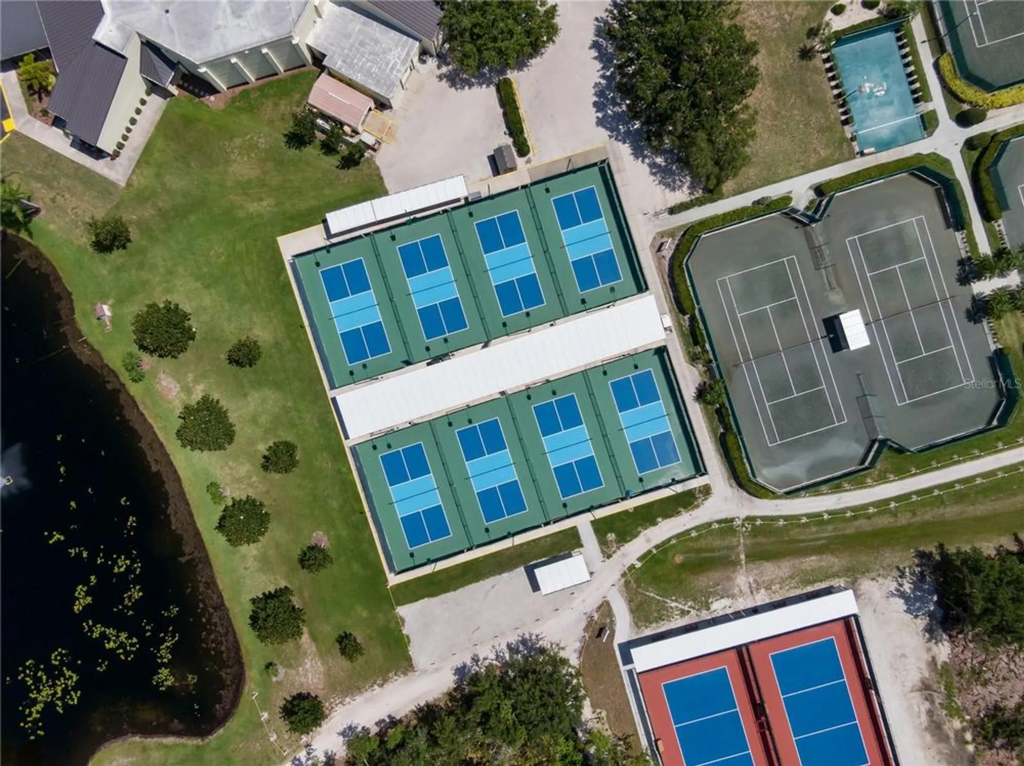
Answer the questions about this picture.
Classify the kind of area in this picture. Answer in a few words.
sports ground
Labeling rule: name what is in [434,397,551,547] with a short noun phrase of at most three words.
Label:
sports court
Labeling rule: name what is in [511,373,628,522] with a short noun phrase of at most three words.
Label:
sports court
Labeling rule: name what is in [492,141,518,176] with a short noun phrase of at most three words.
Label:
shed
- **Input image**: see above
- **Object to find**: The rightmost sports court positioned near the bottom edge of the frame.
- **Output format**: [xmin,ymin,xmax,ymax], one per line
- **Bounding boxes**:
[744,616,897,766]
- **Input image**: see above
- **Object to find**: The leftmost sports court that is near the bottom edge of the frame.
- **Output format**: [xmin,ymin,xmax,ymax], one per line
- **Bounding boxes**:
[638,645,778,766]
